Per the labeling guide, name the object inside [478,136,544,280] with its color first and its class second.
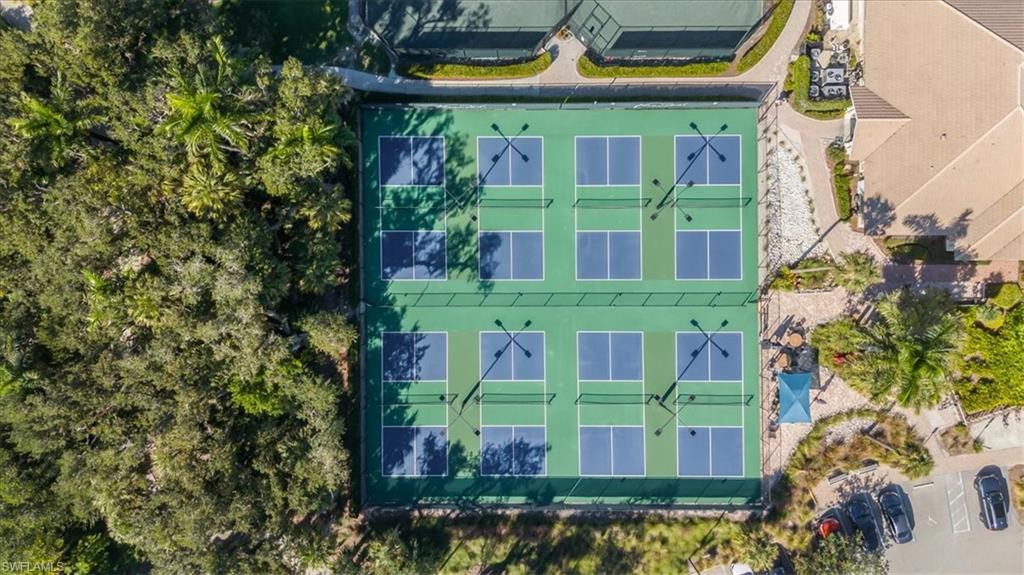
blue sports court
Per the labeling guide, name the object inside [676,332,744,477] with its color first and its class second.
blue sports court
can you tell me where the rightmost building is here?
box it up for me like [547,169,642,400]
[839,0,1024,261]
